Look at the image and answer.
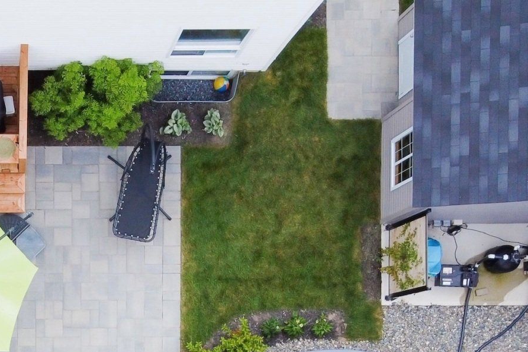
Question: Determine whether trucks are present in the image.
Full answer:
No, the scene contains no truck.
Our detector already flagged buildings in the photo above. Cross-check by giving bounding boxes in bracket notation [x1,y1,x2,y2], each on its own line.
[383,0,528,223]
[0,0,329,82]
